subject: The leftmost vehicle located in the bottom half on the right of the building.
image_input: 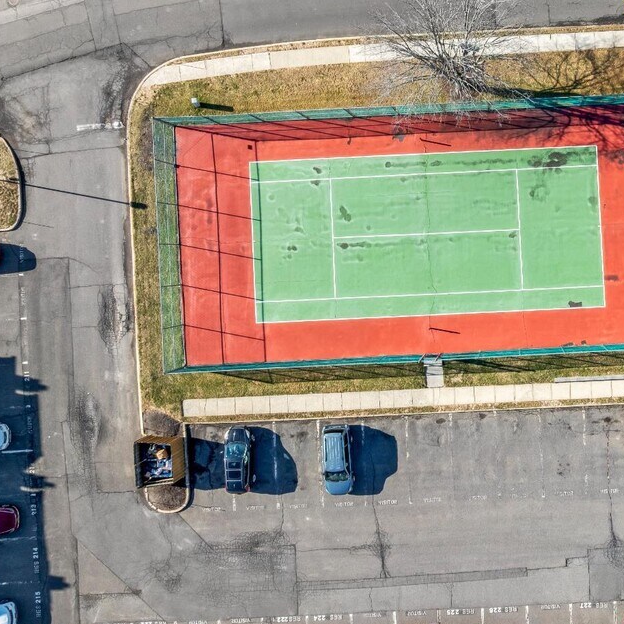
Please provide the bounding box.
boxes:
[219,424,255,495]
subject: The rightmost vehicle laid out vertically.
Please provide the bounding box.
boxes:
[319,423,354,495]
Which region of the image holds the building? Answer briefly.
bottom left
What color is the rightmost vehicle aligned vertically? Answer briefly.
blue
